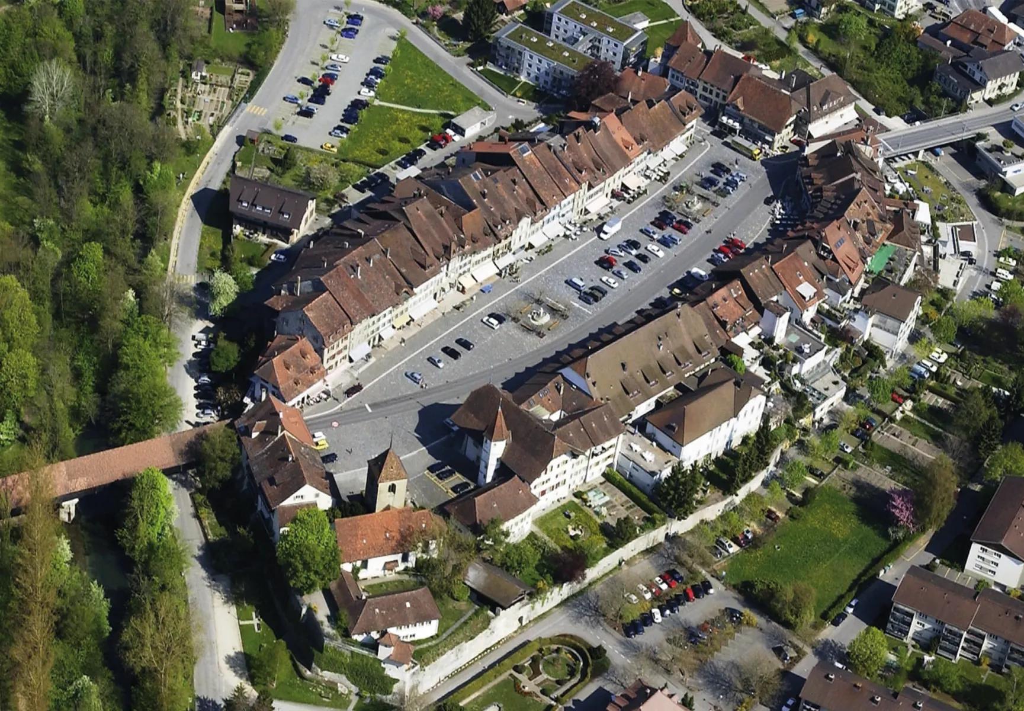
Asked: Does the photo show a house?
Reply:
Yes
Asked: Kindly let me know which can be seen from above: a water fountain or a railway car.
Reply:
water fountain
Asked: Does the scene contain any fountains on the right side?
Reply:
Yes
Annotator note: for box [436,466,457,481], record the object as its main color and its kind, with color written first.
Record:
black car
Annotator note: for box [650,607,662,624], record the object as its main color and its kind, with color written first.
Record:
white vehicle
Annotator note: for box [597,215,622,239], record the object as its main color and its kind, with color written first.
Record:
white truck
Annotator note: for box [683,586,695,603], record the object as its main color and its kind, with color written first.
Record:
red vehicle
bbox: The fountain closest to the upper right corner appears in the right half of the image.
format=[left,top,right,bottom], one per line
[675,190,702,214]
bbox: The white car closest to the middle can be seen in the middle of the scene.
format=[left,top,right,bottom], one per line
[481,316,500,329]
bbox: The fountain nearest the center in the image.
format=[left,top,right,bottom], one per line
[522,302,551,327]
